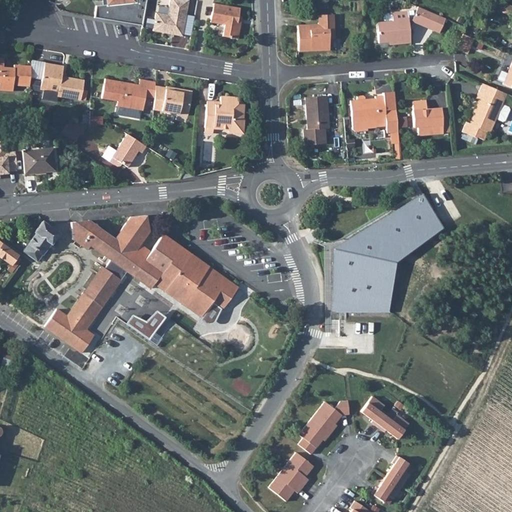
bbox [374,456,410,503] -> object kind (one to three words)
house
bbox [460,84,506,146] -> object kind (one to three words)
house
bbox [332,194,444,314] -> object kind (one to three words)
building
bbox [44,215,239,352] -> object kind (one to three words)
building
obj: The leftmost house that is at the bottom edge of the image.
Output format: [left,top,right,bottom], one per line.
[267,452,314,502]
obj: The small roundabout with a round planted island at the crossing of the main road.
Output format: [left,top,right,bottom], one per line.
[244,168,297,220]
